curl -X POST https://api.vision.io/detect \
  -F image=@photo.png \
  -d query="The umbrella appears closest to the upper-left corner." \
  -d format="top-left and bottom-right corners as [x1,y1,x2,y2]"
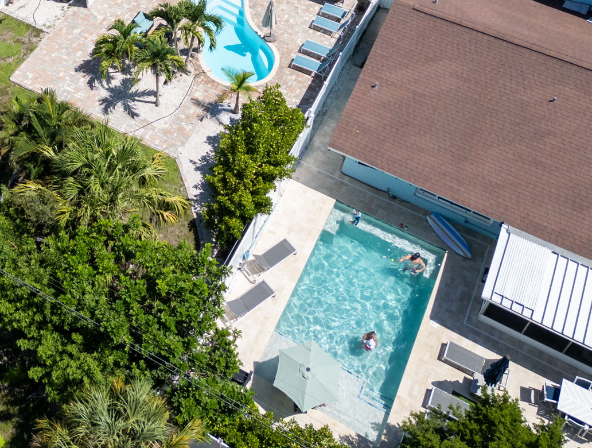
[262,0,280,44]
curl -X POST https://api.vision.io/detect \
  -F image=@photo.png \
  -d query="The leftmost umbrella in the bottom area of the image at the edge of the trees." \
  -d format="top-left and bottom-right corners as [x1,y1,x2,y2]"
[273,339,342,411]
